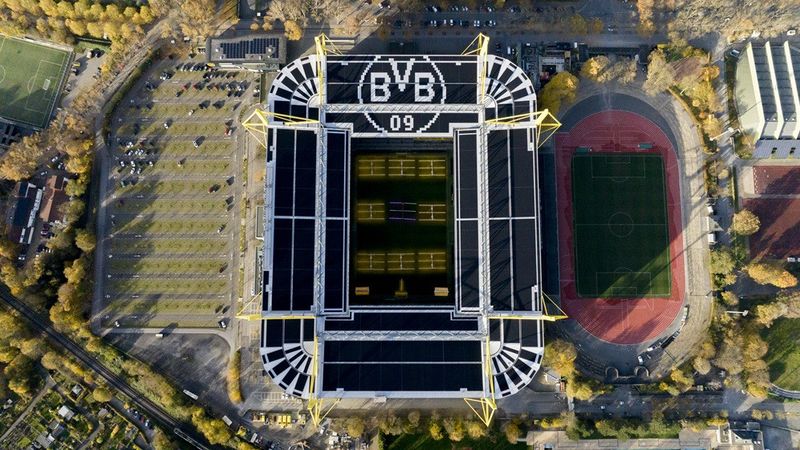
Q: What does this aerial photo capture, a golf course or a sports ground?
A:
sports ground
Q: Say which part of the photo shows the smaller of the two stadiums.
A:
right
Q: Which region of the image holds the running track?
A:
right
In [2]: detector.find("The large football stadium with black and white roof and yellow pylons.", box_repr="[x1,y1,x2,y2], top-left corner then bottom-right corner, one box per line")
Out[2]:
[235,31,570,423]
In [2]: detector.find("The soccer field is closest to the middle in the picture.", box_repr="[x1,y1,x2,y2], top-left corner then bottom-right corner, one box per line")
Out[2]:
[350,145,454,309]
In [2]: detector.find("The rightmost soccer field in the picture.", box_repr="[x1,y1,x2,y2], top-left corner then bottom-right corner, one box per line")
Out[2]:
[573,154,671,298]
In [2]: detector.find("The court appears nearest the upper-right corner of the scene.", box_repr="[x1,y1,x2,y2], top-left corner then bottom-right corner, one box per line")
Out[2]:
[753,166,800,195]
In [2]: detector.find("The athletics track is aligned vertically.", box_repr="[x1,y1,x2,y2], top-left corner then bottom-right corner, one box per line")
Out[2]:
[574,110,686,345]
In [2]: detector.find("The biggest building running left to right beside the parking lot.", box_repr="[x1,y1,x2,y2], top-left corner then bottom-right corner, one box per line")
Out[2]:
[207,34,289,72]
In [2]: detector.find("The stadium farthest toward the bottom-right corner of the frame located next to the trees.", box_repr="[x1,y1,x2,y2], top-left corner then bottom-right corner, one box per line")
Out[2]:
[552,87,714,379]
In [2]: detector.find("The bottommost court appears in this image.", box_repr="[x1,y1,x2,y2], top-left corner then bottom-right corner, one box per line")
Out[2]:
[742,198,800,260]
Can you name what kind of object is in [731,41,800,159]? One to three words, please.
building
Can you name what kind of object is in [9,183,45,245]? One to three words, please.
building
